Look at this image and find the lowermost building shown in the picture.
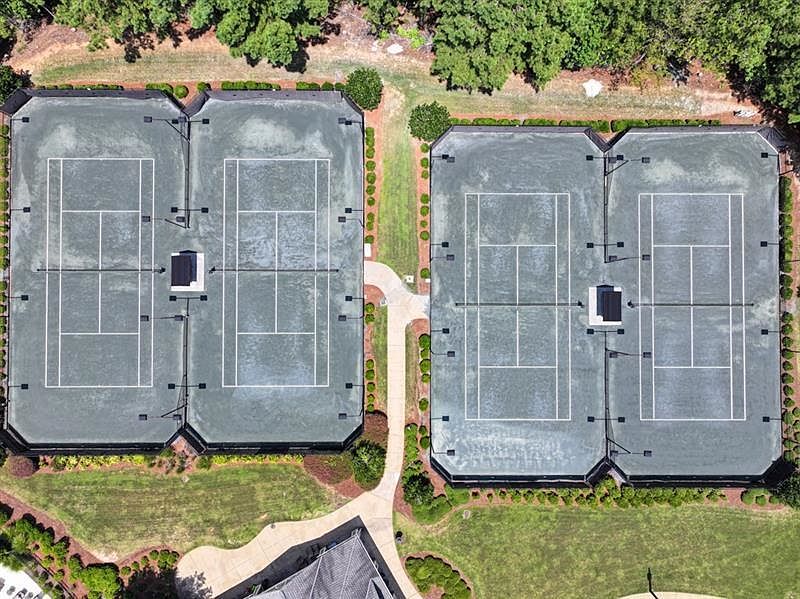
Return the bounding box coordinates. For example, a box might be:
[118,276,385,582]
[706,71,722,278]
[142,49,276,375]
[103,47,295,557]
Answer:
[252,526,400,599]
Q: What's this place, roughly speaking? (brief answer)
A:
sports ground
